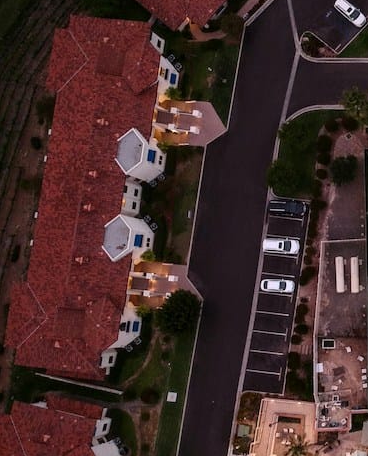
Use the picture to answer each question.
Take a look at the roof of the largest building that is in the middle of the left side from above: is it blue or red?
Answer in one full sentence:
The roof of the largest building that is in the middle of the left side is red.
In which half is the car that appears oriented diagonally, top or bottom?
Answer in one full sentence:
You can find the car that appears oriented diagonally in the top half.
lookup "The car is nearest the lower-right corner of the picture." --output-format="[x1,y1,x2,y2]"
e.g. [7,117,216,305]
[261,279,294,294]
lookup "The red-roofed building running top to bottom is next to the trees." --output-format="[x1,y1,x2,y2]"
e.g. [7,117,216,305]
[3,16,179,380]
